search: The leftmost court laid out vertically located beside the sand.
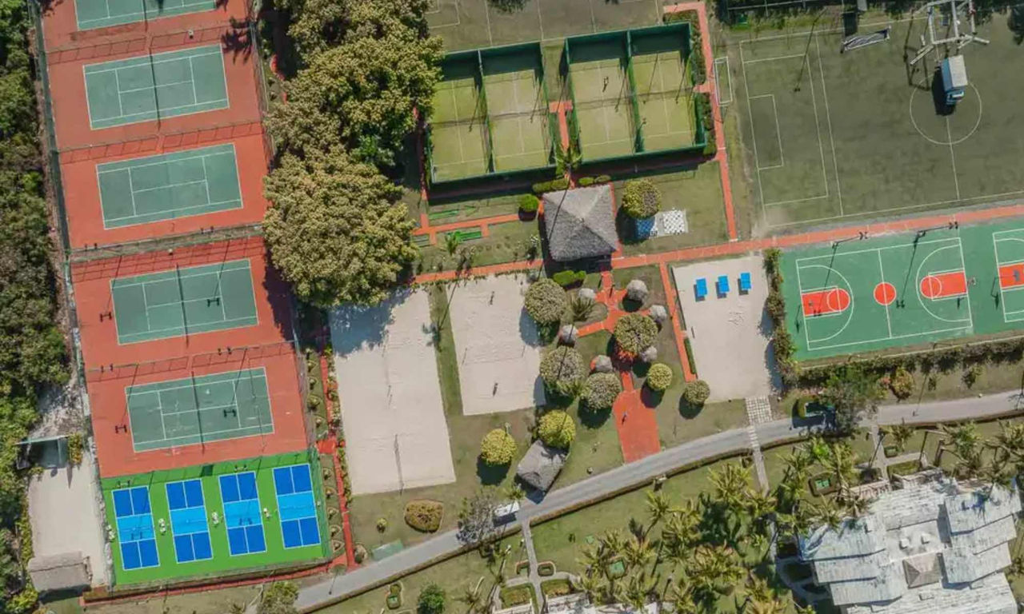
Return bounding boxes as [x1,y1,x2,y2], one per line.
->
[112,486,159,571]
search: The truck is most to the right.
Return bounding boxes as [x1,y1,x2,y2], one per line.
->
[939,55,967,103]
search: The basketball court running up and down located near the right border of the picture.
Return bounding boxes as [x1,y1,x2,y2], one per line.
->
[992,229,1024,322]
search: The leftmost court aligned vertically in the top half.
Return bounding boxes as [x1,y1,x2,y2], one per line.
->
[428,60,493,180]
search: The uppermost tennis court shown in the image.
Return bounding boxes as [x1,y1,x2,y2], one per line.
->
[74,0,217,30]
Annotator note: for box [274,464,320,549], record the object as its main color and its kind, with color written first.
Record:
blue sports court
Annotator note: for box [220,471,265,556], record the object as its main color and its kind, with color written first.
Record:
blue sports court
